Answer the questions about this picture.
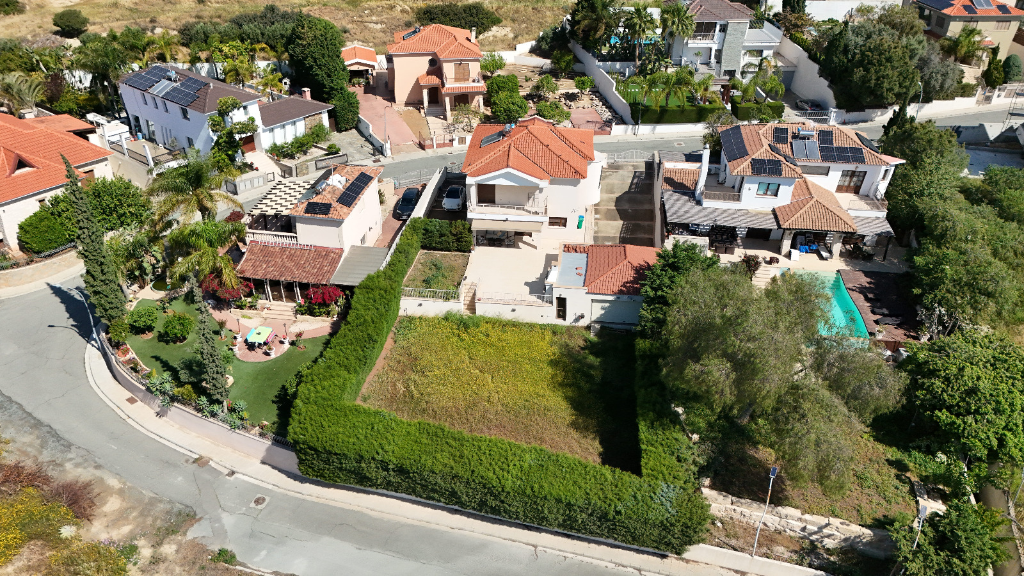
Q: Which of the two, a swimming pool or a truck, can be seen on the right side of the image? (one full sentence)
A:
The one visible on the right side of the image is a swimming pool.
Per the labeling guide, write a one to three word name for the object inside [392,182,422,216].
car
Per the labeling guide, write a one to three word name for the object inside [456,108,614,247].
house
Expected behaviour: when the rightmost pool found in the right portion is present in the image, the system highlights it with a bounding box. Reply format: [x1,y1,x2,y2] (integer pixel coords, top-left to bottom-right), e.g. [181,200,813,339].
[775,265,871,361]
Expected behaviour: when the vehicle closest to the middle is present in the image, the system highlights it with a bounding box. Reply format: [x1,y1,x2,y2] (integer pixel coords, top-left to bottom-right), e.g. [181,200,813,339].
[427,182,463,219]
